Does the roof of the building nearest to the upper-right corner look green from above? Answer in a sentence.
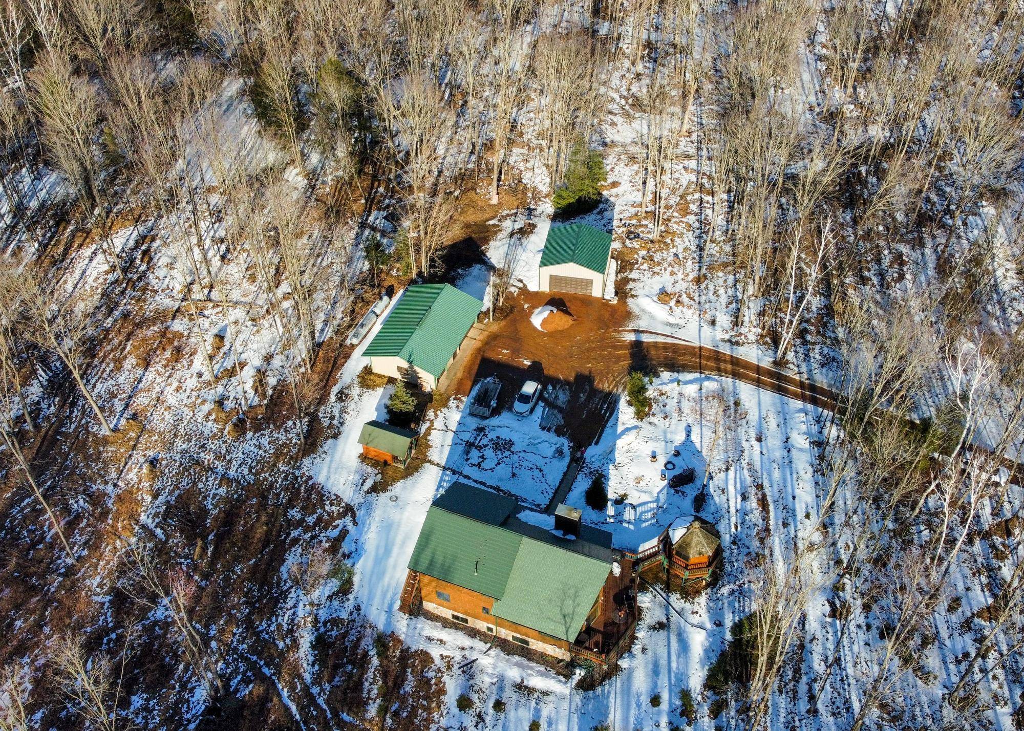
Yes, the roof of the building nearest to the upper-right corner appears green.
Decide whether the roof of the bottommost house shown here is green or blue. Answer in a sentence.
The roof of the bottommost house is green.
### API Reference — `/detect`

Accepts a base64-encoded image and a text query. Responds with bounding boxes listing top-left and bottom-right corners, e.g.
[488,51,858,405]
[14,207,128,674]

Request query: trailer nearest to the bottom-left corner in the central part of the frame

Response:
[468,373,501,414]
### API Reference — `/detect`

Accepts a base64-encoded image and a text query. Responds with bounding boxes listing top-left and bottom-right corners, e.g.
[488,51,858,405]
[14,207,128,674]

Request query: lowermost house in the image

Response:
[405,481,615,662]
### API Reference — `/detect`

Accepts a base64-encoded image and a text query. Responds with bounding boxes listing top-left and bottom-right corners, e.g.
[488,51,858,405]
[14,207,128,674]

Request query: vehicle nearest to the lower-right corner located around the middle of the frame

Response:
[513,376,545,416]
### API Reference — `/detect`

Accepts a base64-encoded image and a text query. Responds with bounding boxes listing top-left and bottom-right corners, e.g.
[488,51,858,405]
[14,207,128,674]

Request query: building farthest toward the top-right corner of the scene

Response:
[539,223,612,295]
